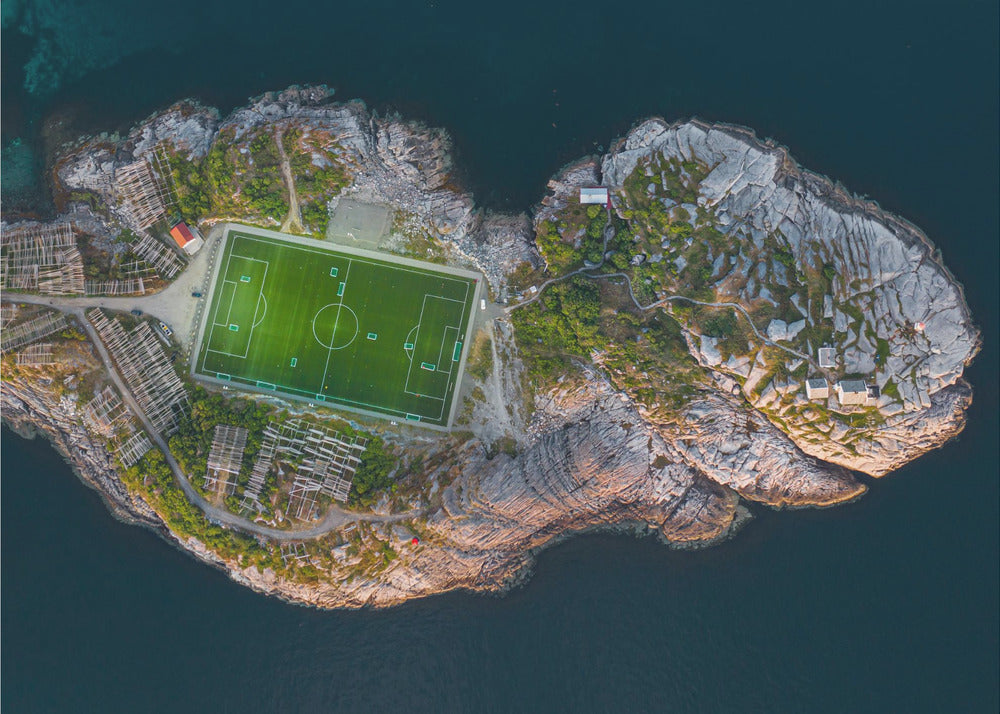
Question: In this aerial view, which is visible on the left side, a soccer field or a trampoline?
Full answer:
What appears on the left side is a soccer field.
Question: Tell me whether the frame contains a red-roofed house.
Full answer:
Yes, the picture does show a red-roofed house.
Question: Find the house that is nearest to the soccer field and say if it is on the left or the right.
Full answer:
The house that is nearest to the soccer field appears in the left half of the scene.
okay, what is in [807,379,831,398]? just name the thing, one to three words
house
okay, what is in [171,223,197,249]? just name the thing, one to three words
house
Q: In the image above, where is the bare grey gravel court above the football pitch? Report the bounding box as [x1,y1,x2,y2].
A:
[332,198,388,243]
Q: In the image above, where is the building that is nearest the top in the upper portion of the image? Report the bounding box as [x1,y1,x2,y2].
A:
[580,189,607,204]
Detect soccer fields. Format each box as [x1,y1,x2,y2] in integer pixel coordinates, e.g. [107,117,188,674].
[190,224,482,432]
